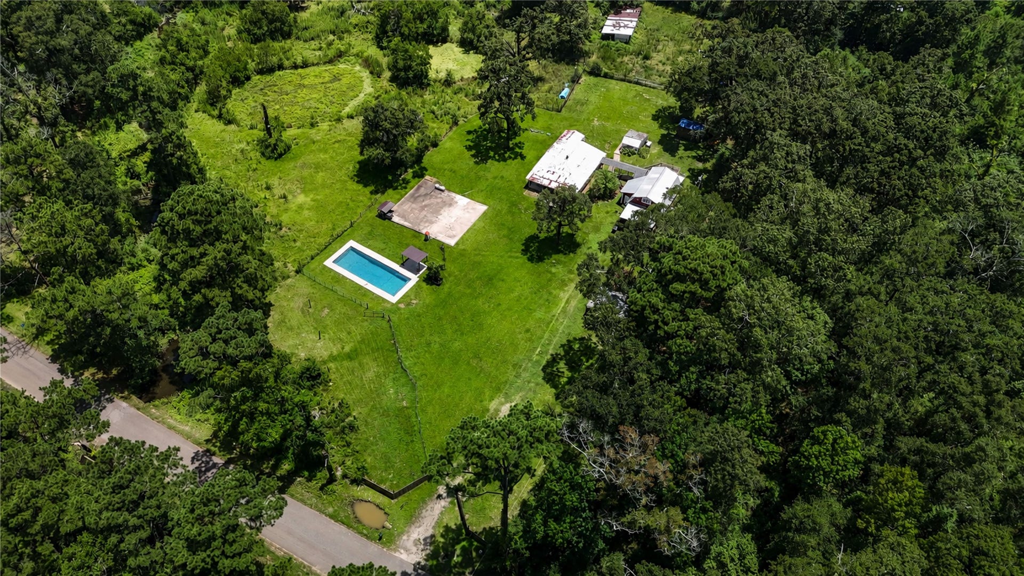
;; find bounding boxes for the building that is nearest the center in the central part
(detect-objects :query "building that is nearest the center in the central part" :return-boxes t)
[400,245,429,275]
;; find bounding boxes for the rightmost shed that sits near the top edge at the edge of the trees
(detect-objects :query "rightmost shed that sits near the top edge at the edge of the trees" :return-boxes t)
[602,6,633,44]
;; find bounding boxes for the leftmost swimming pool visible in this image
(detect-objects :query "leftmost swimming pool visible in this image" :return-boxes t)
[323,240,420,304]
